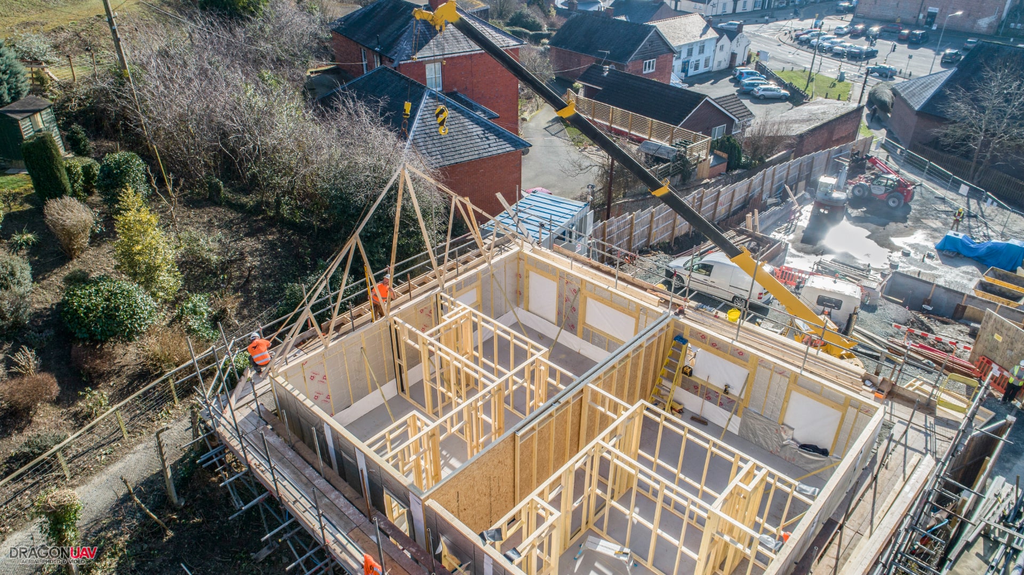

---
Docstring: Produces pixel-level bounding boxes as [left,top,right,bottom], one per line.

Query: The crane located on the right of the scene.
[410,0,910,389]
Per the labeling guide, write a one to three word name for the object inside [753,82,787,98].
car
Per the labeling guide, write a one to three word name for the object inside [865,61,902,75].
car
